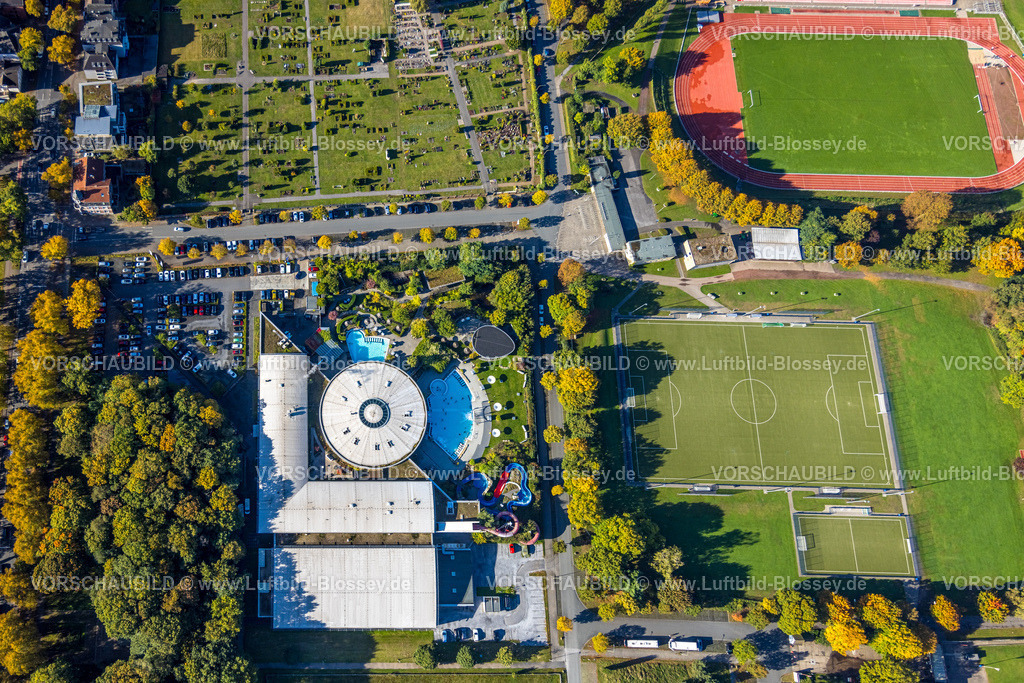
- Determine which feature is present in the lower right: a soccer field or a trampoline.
soccer field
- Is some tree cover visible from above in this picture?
Yes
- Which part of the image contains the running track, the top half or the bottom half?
top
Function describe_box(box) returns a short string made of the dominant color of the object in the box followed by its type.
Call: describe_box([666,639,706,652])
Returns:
white vehicle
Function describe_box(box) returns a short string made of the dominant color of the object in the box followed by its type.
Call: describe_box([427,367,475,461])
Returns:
blue swimming pool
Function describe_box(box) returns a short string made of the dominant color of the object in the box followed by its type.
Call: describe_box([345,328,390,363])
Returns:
blue swimming pool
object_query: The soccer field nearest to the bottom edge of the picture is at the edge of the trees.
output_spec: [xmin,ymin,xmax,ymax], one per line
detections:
[795,514,914,577]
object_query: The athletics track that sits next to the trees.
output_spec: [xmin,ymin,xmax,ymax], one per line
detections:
[671,8,1024,193]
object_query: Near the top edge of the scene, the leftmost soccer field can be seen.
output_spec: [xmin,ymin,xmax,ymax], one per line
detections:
[732,33,998,177]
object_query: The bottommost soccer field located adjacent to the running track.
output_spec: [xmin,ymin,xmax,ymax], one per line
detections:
[620,319,895,488]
